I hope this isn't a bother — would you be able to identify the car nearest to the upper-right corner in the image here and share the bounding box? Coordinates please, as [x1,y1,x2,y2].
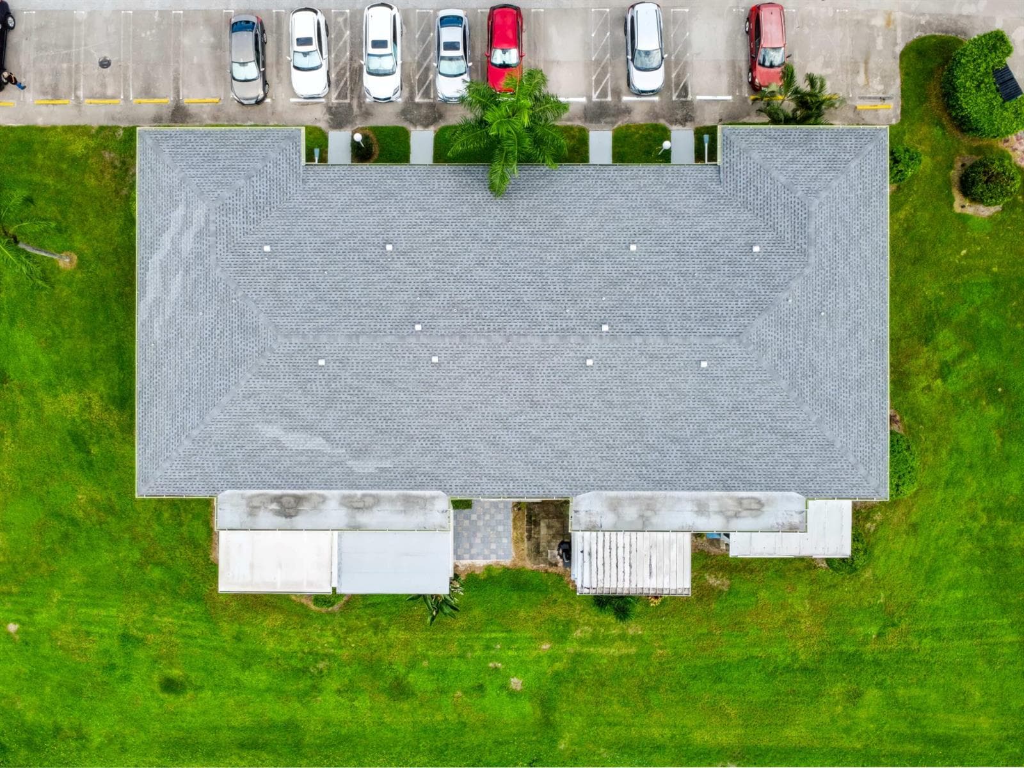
[744,6,791,94]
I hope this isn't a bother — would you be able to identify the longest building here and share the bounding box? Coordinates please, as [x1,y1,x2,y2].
[136,127,889,533]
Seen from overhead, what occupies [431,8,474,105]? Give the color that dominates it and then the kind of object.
white car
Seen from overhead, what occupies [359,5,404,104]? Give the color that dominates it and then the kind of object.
white car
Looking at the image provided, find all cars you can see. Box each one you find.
[431,8,474,105]
[625,4,670,98]
[359,5,404,104]
[224,14,270,108]
[285,9,330,101]
[0,1,13,93]
[483,8,527,96]
[744,6,791,94]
